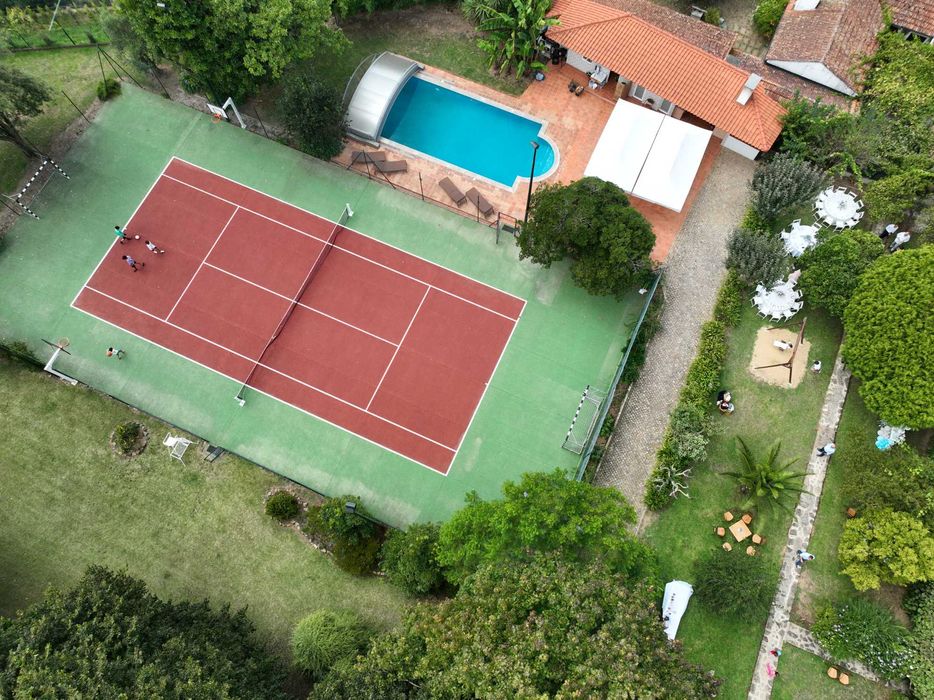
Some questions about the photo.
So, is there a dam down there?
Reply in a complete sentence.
No, there appears to be no dam in this shot.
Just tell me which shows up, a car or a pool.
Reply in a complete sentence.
The one in the frame is a pool.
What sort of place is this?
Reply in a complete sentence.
It's a sports ground.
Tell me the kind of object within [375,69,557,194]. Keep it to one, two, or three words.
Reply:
swimming pool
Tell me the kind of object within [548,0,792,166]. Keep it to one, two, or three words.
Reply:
building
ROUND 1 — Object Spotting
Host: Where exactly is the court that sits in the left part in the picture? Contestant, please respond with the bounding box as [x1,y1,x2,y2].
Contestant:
[0,80,649,562]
